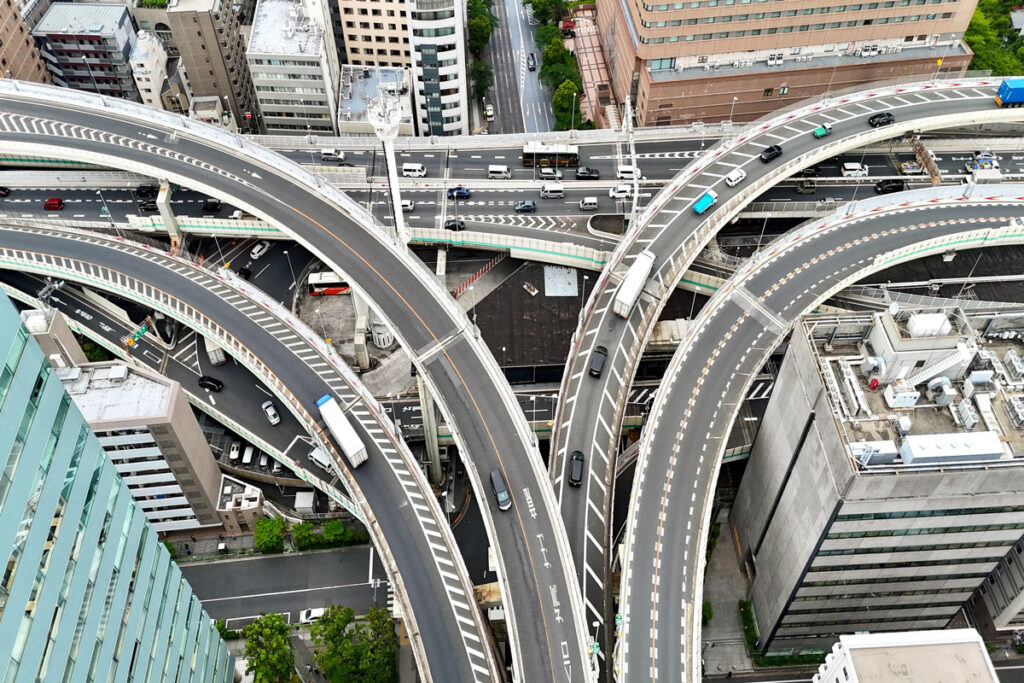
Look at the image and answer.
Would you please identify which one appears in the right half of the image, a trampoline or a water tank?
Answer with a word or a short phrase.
water tank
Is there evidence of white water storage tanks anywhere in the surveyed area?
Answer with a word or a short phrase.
Yes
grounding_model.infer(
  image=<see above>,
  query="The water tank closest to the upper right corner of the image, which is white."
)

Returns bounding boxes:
[905,294,971,337]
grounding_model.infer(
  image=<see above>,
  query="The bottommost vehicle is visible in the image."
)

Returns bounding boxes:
[296,608,329,624]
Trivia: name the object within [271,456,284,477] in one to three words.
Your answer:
vehicle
